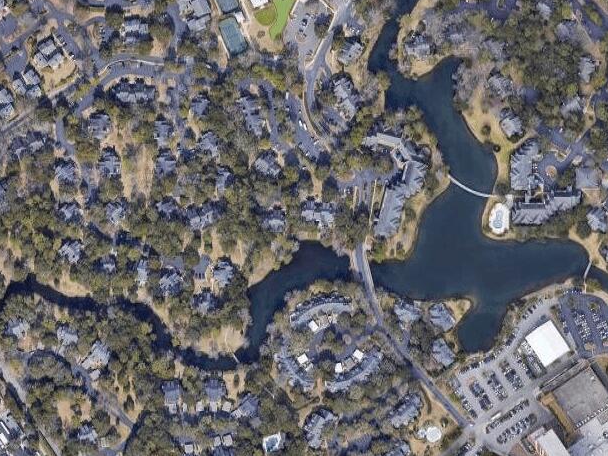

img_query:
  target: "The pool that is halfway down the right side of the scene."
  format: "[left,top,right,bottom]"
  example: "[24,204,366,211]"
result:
[491,203,507,233]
